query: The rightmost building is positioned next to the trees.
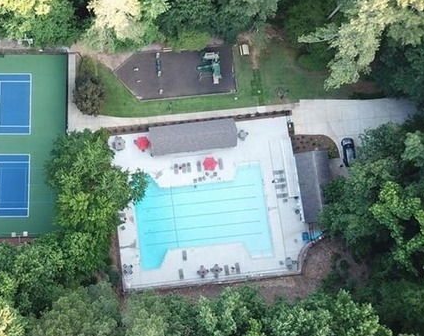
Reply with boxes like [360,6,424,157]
[294,150,337,223]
